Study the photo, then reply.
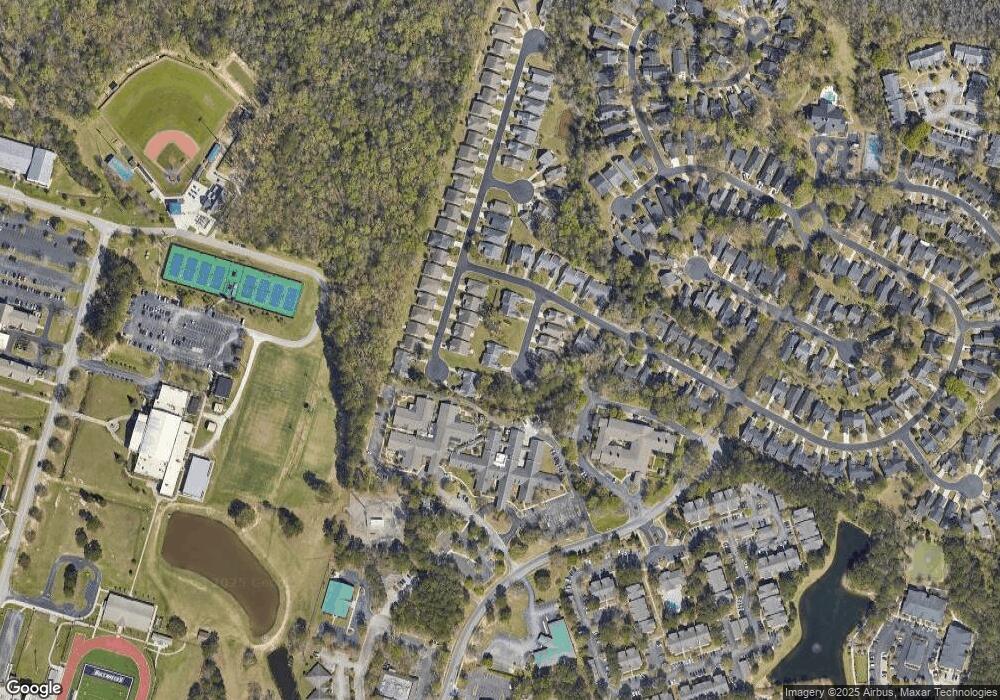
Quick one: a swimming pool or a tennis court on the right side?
swimming pool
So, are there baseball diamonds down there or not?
Yes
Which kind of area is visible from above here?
residential area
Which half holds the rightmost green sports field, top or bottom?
bottom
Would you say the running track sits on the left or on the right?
left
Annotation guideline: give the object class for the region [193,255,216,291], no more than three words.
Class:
tennis court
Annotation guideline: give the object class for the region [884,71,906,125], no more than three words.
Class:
building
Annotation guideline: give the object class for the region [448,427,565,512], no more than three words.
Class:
house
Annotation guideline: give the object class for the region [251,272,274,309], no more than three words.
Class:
tennis court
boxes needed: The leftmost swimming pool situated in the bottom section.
[660,590,683,612]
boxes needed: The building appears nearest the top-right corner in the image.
[951,44,992,64]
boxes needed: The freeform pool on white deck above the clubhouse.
[820,86,837,104]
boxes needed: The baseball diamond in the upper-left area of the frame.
[99,57,239,196]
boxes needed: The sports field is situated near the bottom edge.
[68,645,139,700]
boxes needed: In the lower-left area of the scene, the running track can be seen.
[57,634,150,700]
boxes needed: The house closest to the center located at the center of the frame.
[481,343,506,365]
